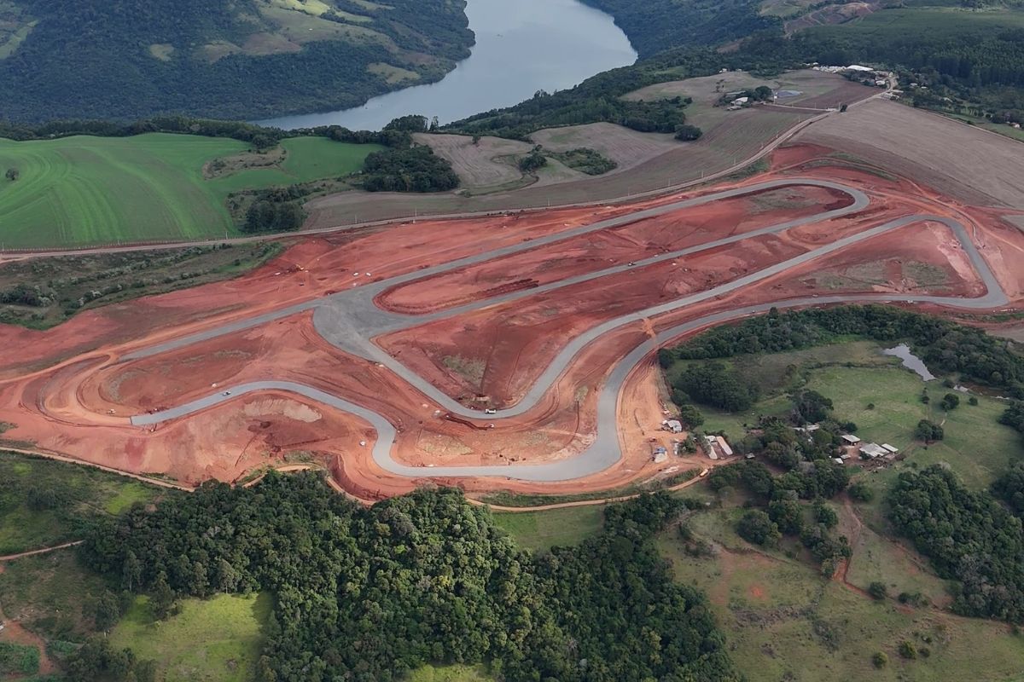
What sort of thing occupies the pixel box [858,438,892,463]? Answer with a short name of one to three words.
barn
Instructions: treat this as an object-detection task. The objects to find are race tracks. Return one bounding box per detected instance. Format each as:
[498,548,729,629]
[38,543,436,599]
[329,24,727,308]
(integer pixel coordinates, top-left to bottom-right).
[117,179,1007,480]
